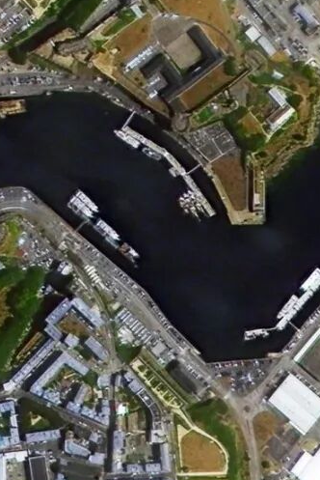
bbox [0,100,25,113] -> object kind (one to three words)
ship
